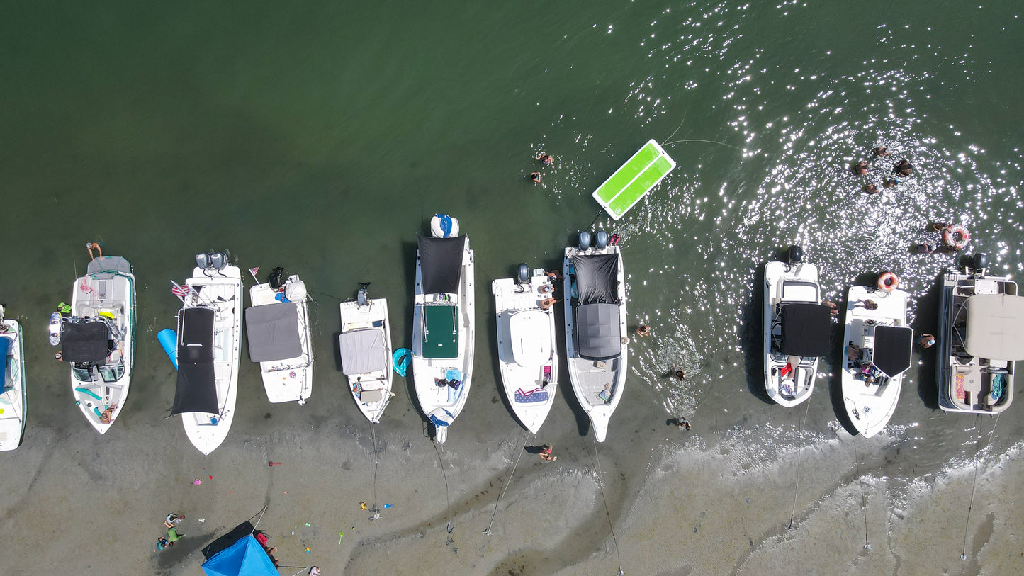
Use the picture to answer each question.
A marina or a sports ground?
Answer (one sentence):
The area seen from above is a marina.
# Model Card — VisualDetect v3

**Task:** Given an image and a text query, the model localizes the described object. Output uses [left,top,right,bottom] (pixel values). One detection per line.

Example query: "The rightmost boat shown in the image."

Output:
[937,253,1024,418]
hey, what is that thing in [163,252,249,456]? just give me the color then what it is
white boat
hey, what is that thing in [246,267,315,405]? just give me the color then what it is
white boat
